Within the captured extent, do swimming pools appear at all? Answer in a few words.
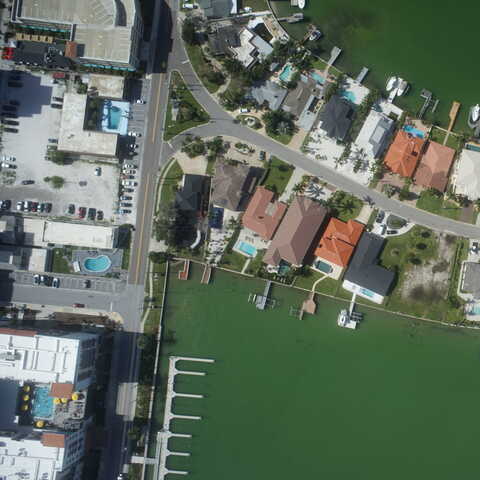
Yes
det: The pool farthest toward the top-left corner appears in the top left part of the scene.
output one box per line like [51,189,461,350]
[107,106,125,129]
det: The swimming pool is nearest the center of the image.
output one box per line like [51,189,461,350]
[239,239,258,256]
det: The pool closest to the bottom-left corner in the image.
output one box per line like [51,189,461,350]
[31,384,54,424]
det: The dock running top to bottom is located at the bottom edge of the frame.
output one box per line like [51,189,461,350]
[130,352,216,480]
